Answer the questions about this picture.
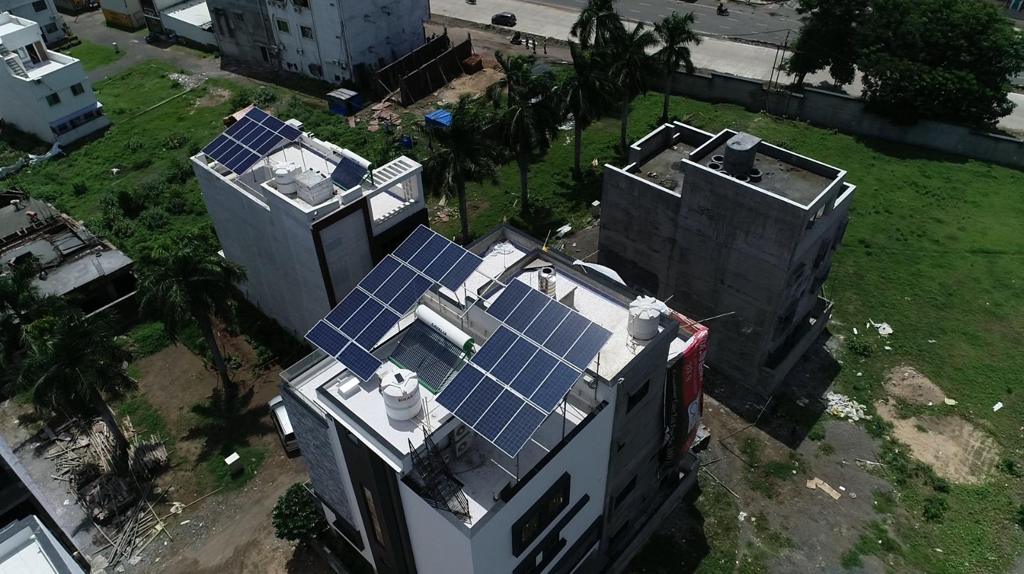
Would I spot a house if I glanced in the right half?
Yes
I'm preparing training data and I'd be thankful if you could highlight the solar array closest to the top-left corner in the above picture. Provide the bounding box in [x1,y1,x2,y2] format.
[201,106,305,191]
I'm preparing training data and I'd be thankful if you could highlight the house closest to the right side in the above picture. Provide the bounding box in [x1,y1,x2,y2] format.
[597,123,860,382]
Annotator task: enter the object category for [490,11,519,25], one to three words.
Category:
car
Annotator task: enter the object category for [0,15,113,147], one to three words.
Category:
house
